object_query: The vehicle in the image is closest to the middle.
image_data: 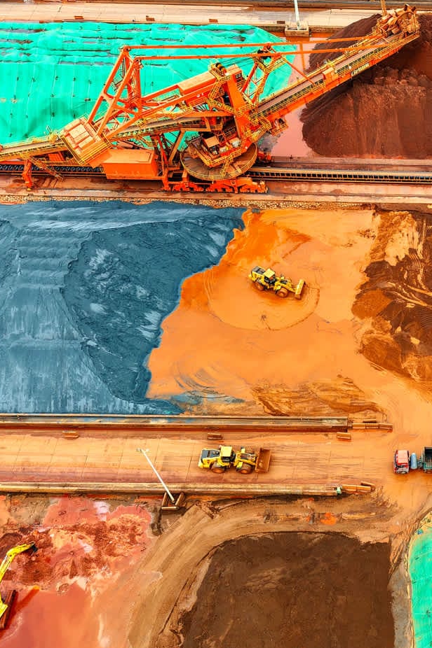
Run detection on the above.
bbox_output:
[244,269,304,302]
